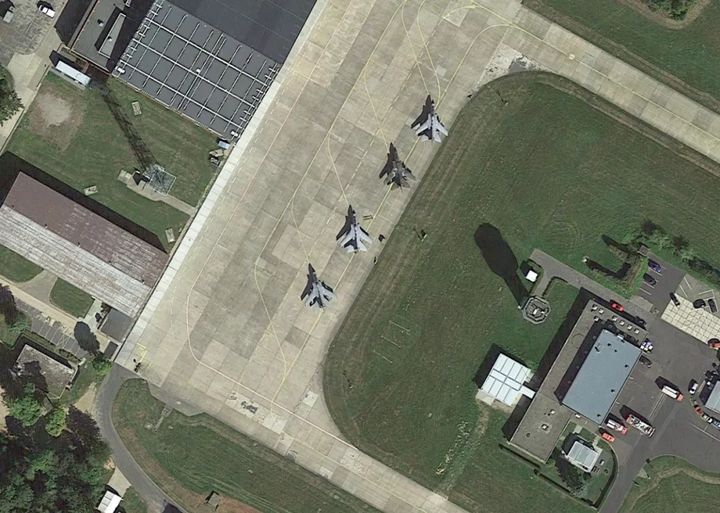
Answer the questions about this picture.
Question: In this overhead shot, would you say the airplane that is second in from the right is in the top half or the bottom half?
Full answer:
The top half of the photo is where the airplane that is second in from the right is.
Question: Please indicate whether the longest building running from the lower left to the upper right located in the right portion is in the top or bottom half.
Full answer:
The longest building running from the lower left to the upper right located in the right portion sits in the bottom half of the picture.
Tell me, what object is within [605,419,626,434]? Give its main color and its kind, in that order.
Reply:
white vehicle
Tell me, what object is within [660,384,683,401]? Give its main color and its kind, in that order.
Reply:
white vehicle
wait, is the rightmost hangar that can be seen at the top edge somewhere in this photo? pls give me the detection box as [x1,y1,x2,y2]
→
[112,0,317,145]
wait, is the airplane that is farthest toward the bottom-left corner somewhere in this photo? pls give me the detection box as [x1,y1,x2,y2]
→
[304,268,335,312]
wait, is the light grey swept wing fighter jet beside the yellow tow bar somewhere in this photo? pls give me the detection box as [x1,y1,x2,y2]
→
[340,210,371,254]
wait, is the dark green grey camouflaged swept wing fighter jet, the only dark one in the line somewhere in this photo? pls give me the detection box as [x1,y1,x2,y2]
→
[382,148,413,192]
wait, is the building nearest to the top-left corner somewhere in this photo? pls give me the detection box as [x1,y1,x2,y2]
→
[72,0,150,73]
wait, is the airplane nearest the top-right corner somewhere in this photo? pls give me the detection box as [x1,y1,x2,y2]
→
[418,100,450,143]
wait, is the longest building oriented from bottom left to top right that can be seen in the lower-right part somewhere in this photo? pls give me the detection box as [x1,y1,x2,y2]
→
[507,301,650,462]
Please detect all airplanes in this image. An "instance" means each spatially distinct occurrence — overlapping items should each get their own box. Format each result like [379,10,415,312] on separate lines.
[304,268,335,312]
[418,100,450,143]
[340,210,371,254]
[382,148,413,192]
